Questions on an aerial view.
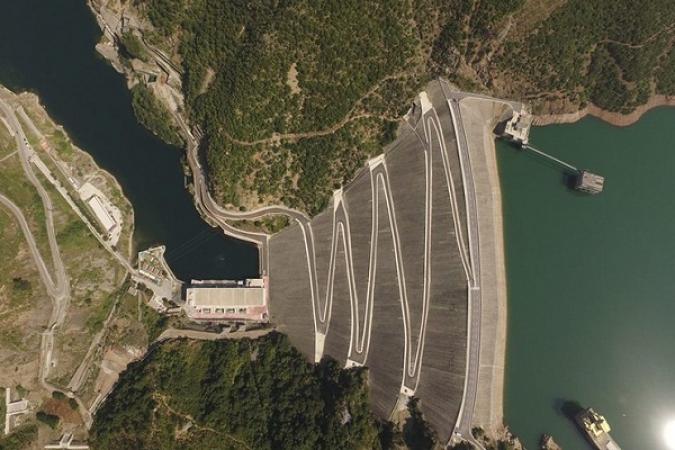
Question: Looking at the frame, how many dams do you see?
1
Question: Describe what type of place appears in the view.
port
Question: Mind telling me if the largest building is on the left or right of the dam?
to the left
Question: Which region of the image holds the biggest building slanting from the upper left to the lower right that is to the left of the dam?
left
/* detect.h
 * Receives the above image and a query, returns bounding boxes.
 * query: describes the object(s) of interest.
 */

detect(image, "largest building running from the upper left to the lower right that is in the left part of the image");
[88,196,119,232]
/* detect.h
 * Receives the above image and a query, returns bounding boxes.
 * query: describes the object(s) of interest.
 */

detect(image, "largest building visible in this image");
[187,277,270,322]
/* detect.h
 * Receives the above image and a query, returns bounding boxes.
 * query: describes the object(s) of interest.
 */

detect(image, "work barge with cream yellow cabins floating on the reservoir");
[583,405,626,450]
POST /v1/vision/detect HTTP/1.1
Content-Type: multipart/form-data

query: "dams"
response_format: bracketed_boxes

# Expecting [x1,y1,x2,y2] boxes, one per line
[268,78,514,445]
